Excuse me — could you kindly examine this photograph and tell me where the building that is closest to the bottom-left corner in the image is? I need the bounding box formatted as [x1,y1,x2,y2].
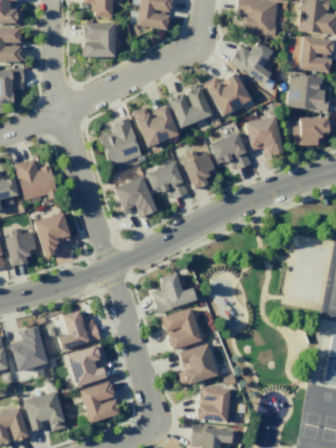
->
[0,407,28,446]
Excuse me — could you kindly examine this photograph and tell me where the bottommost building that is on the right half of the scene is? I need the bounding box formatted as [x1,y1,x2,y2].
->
[190,424,234,448]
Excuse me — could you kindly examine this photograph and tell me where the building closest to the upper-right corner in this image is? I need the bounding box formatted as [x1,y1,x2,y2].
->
[299,0,336,34]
